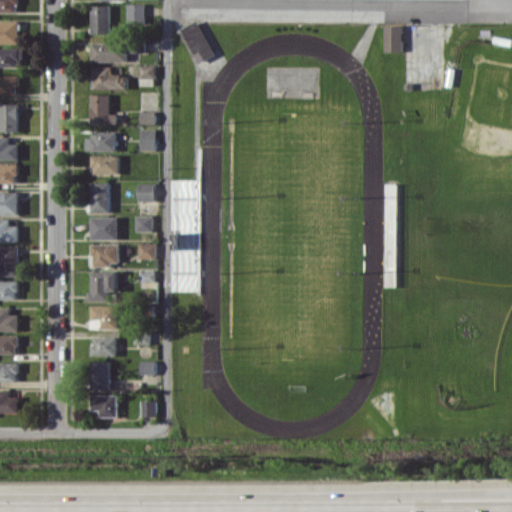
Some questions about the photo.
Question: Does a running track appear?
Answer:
Yes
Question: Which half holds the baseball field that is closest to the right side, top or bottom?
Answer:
top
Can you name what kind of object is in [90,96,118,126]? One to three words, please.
house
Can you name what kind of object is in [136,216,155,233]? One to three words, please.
building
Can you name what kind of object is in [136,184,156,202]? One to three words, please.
building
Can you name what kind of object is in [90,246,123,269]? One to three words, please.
house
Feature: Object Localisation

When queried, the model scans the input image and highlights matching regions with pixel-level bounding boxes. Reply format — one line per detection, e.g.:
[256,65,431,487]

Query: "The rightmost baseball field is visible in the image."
[464,54,512,156]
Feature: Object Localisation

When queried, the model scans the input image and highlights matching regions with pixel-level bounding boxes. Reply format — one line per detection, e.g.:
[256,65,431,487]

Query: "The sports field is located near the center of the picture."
[222,54,364,420]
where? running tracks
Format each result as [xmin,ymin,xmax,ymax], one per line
[202,35,384,438]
